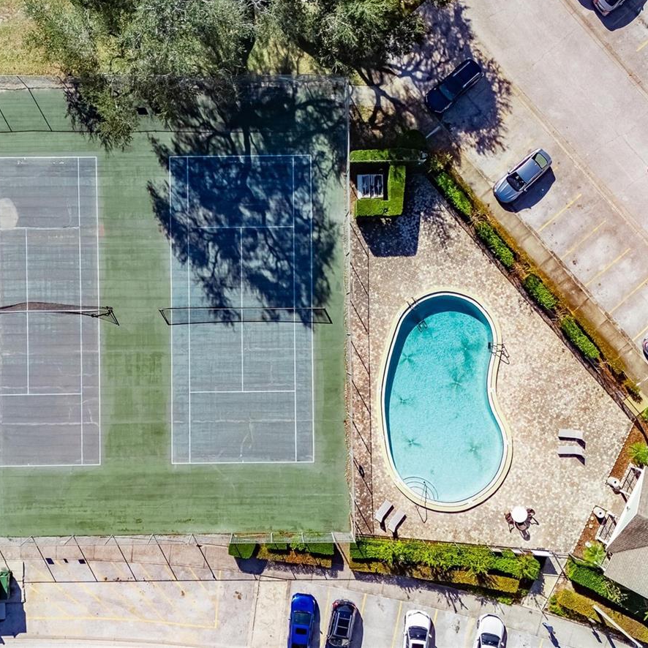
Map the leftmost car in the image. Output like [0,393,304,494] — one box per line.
[289,594,319,648]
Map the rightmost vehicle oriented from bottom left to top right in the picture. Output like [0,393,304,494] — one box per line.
[497,149,554,201]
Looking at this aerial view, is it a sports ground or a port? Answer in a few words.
sports ground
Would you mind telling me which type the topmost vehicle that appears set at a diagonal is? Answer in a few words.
automobile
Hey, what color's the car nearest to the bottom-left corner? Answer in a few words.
blue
